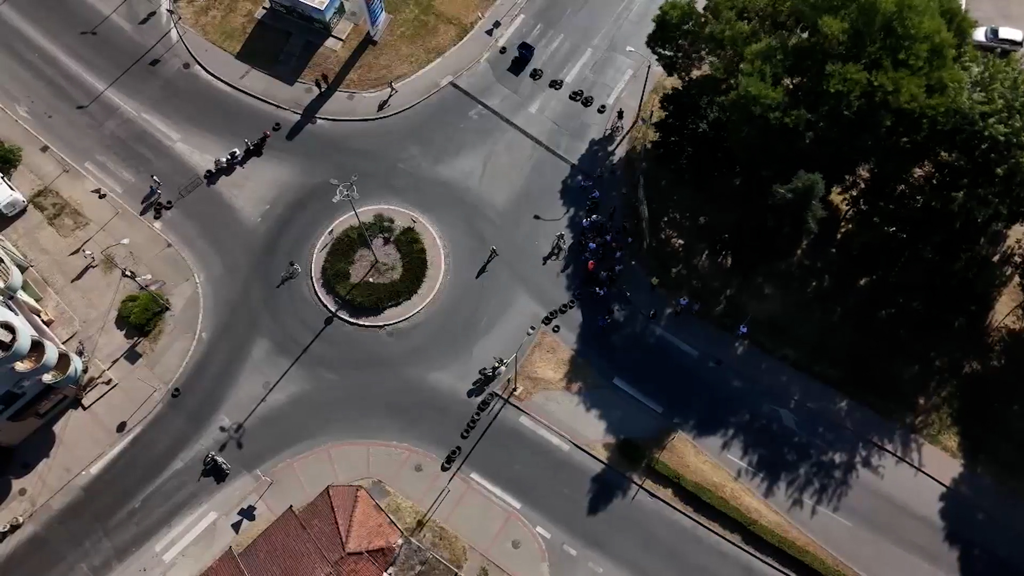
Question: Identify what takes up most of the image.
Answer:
paved ground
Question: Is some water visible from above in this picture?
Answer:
No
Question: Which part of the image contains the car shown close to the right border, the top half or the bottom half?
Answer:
top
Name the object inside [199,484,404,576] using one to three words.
house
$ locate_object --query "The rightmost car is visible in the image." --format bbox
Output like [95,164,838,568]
[979,24,1024,54]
